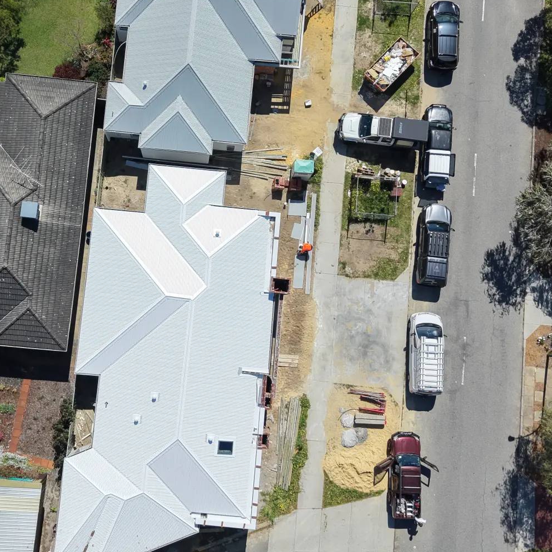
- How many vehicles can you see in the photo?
six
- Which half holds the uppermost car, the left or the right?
right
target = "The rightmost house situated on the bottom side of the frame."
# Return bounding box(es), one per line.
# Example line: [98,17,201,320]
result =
[52,163,289,552]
